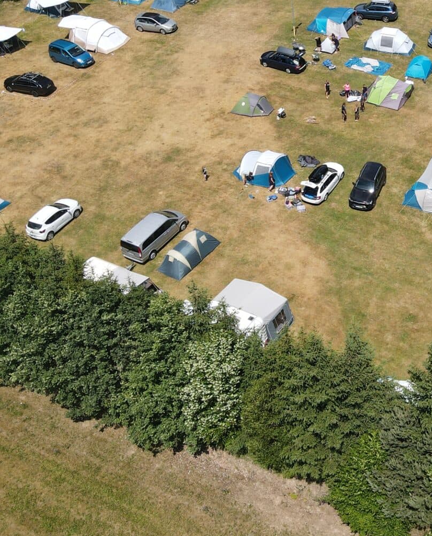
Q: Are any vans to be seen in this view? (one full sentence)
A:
Yes, looking at the shot, I can spot a van.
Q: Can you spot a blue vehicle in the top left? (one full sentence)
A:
Yes, in the top left there is a blue vehicle.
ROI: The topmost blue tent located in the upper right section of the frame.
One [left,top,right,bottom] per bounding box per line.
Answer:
[308,7,369,39]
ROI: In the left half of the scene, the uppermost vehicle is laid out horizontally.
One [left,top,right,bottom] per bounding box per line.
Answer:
[129,11,178,34]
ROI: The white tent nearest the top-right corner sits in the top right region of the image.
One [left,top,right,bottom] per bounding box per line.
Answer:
[366,28,415,63]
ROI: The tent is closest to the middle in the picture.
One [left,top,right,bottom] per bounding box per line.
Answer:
[158,234,221,281]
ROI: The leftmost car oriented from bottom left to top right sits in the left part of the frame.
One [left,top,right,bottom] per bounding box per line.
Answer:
[16,199,82,246]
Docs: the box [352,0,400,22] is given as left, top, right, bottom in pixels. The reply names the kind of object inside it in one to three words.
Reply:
car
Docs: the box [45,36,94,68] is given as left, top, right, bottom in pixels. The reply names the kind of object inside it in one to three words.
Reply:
car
